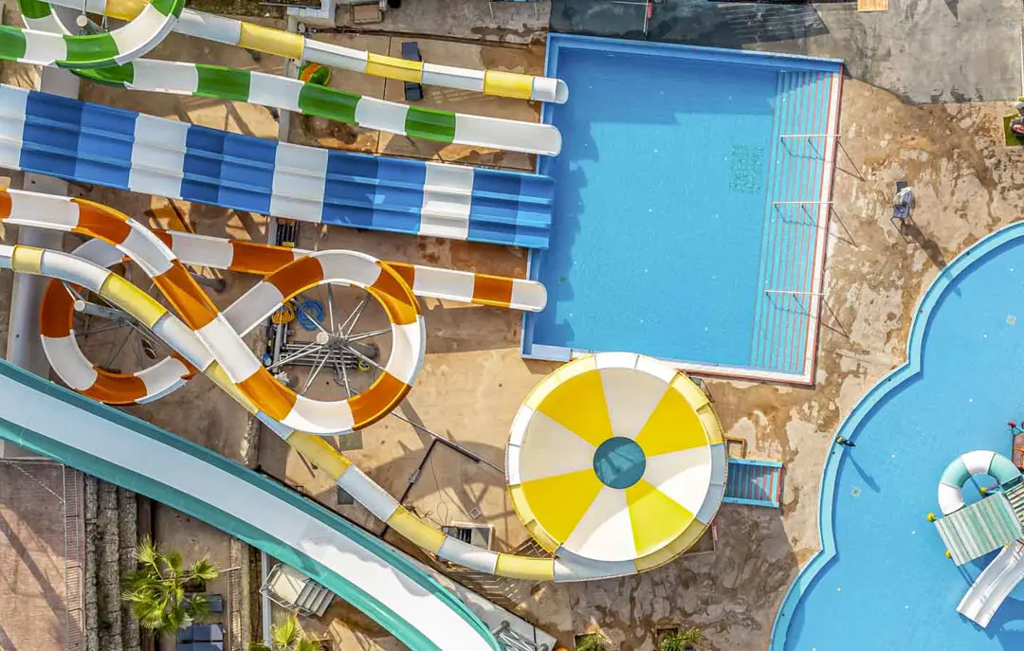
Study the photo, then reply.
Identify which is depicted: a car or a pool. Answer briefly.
pool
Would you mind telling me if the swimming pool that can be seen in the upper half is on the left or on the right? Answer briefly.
right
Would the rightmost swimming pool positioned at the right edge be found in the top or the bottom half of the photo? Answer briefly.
bottom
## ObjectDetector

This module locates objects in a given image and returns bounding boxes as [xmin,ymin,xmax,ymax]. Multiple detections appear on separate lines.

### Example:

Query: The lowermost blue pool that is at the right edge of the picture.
[771,222,1024,651]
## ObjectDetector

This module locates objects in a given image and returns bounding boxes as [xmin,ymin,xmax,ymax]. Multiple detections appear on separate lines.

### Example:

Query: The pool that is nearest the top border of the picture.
[521,28,843,384]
